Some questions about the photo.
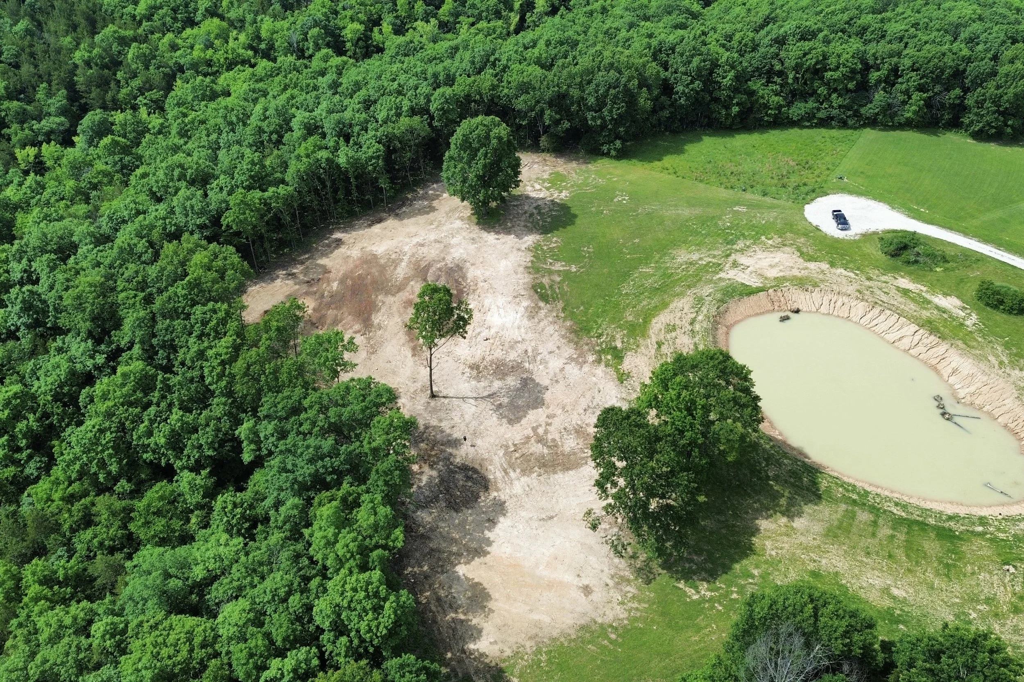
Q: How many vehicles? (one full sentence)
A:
I count 1 vehicle.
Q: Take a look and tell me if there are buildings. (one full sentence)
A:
No, the frame has no building in it.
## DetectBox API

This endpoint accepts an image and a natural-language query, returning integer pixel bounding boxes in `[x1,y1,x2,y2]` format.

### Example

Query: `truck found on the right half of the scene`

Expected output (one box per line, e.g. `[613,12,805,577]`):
[832,206,853,227]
